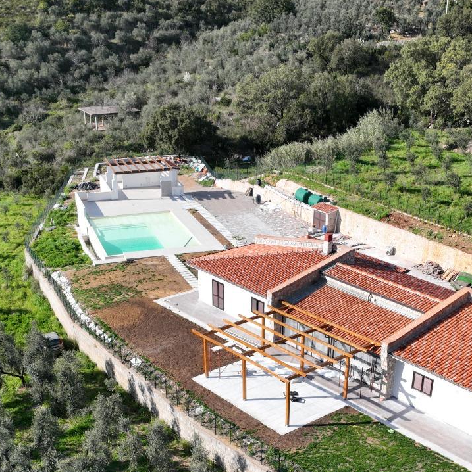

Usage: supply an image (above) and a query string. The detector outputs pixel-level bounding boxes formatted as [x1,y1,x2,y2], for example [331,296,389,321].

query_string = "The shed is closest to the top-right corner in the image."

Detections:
[313,199,343,232]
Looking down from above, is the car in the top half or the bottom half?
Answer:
bottom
